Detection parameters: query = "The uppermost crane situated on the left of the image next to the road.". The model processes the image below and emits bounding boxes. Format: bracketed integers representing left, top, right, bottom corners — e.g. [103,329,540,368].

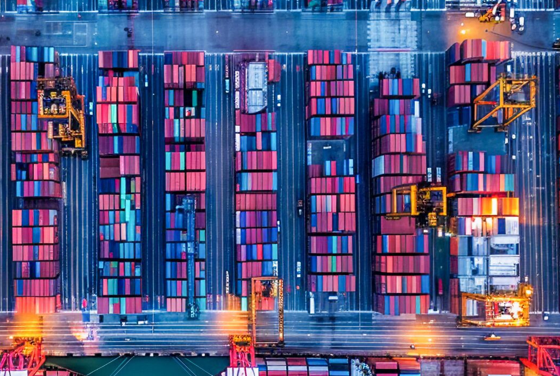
[37,77,85,155]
